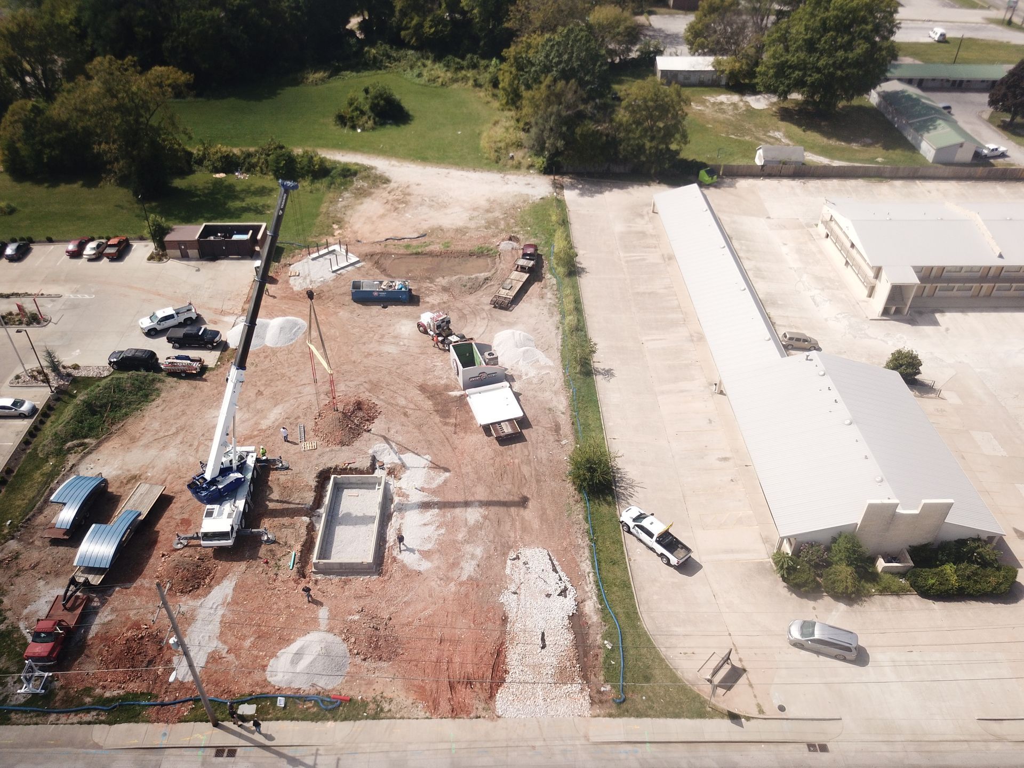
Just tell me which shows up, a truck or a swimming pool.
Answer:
truck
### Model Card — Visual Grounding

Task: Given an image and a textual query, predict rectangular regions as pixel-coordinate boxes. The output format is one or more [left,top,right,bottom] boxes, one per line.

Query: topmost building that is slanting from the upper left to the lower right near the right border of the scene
[861,76,984,163]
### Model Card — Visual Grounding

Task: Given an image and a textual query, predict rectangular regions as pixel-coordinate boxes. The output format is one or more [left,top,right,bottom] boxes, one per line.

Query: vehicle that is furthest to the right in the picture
[977,141,1009,158]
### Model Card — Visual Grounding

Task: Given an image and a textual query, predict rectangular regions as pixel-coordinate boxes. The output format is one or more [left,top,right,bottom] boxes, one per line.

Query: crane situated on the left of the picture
[171,182,313,551]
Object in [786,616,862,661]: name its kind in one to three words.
car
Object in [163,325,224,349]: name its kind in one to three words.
truck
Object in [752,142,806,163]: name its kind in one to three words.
shed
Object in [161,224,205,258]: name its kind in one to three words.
building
